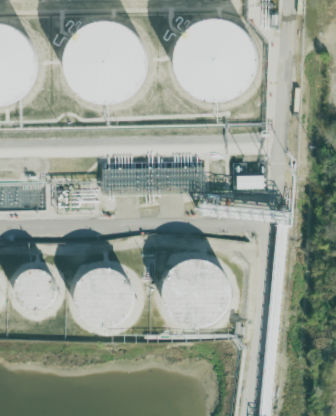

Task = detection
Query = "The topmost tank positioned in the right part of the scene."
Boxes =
[168,14,265,110]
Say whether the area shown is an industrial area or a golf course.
industrial area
